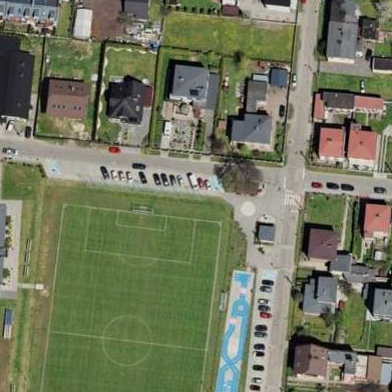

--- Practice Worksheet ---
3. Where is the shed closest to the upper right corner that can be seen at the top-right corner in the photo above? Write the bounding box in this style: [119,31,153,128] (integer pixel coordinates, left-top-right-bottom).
[359,19,377,40]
